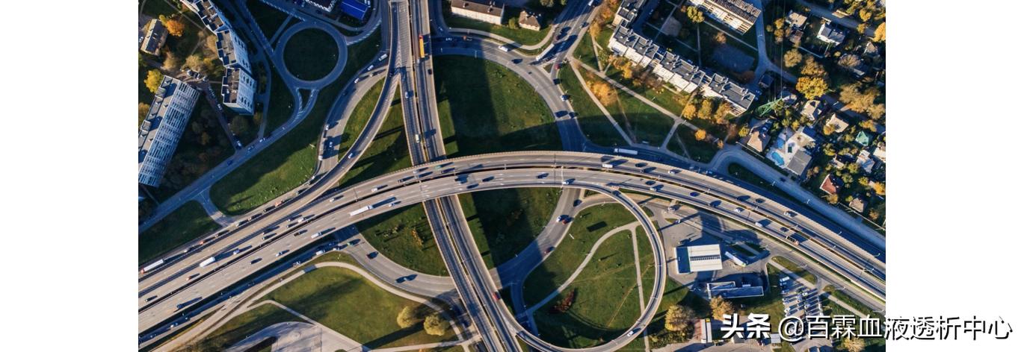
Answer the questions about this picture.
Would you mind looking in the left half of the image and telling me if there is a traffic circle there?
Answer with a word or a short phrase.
Yes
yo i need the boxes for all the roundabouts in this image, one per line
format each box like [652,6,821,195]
[274,18,348,91]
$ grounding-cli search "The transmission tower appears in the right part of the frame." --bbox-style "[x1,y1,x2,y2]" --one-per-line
[753,101,786,117]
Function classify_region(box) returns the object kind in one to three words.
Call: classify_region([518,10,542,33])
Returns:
house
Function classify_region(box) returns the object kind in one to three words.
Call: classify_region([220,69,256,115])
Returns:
building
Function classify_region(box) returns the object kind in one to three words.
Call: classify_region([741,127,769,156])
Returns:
house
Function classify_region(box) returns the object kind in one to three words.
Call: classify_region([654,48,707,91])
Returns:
building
